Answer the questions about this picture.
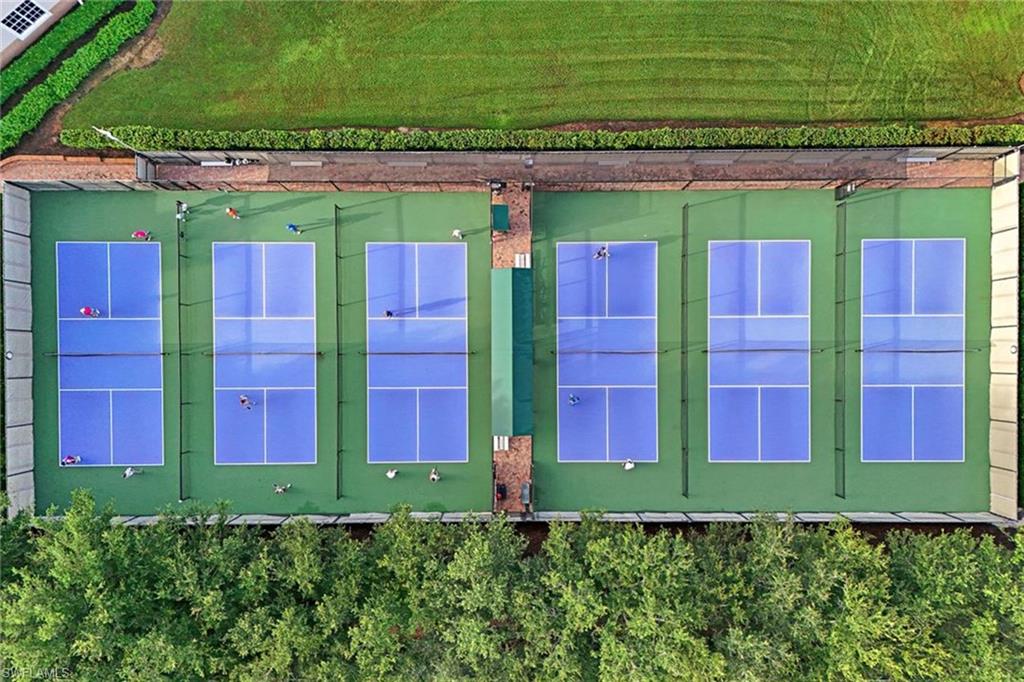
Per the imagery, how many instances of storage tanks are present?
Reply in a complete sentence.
The photo contains no storage tanks.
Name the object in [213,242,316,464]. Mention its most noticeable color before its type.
blue sports court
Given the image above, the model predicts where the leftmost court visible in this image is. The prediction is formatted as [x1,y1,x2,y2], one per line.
[57,242,163,466]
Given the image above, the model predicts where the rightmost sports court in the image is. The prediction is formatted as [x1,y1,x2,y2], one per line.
[862,239,965,462]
